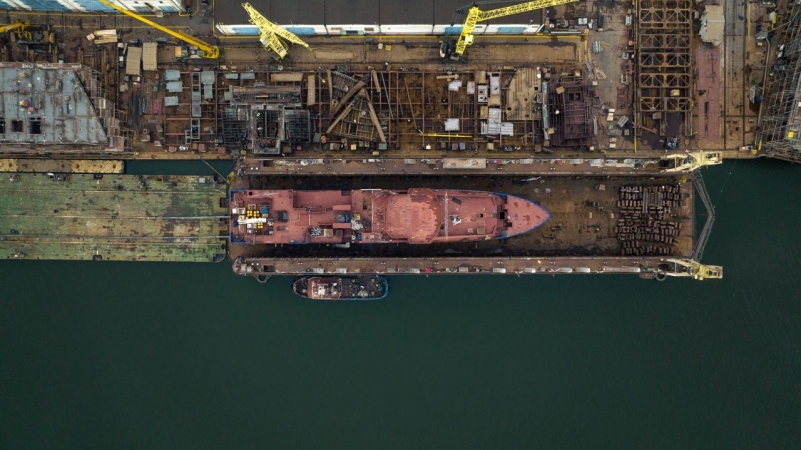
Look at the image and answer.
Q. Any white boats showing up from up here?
No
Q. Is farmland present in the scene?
No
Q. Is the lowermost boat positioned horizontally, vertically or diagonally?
horizontally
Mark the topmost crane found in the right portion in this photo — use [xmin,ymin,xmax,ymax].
[440,0,586,64]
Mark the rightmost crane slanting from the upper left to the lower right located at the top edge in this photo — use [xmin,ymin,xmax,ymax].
[238,0,312,67]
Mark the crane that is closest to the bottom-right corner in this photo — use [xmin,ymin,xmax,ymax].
[657,256,724,280]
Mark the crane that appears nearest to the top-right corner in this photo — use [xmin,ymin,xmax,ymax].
[657,149,724,172]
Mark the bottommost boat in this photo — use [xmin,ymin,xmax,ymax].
[293,275,389,301]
